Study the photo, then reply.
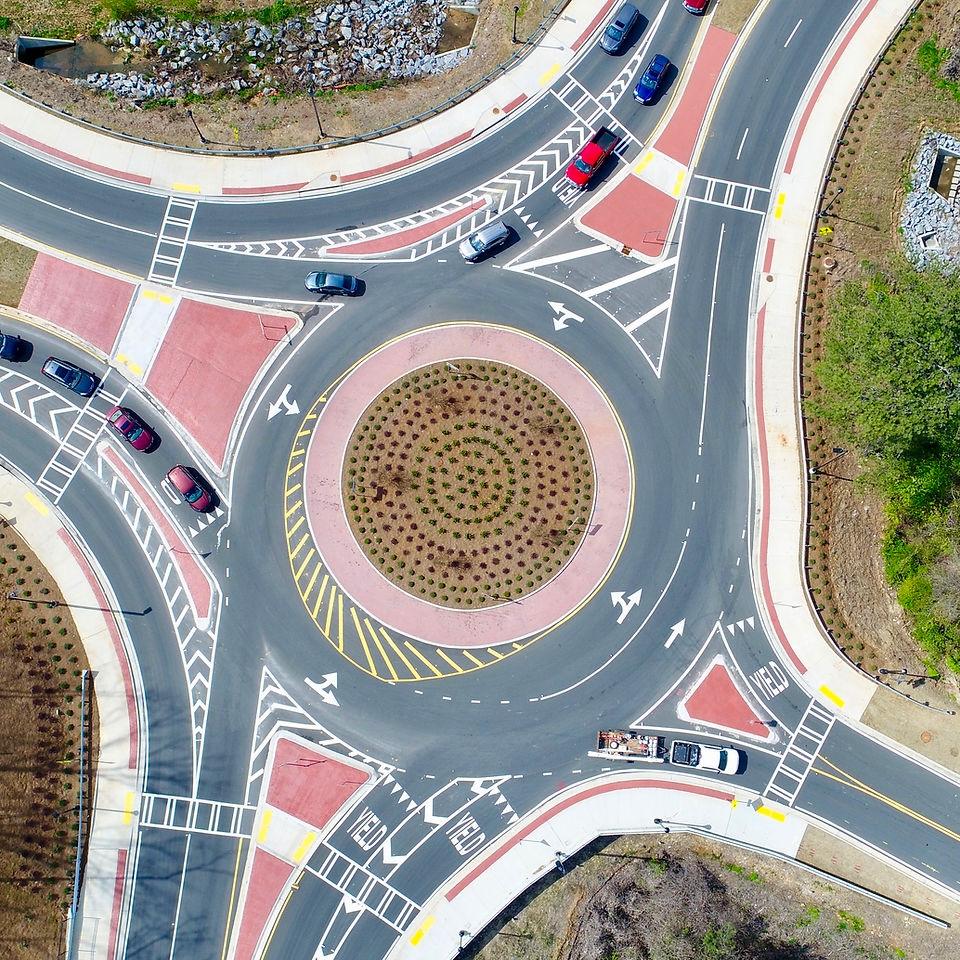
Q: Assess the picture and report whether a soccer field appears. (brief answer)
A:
No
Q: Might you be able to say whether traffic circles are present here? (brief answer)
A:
Yes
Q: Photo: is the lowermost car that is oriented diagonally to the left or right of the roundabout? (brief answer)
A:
left of it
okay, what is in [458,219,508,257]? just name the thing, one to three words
car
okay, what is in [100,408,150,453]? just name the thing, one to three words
car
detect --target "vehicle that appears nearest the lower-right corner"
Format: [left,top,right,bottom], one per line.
[670,742,742,775]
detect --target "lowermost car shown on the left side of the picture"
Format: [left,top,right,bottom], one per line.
[162,466,208,513]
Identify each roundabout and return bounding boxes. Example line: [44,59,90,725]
[206,238,746,779]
